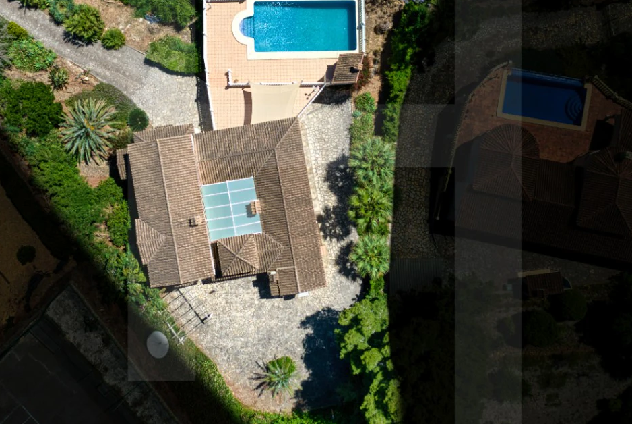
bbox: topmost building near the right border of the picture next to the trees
[453,109,632,271]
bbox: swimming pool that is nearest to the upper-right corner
[498,69,594,131]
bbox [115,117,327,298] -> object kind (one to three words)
house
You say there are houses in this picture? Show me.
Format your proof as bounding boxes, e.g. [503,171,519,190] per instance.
[453,109,632,271]
[115,117,327,298]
